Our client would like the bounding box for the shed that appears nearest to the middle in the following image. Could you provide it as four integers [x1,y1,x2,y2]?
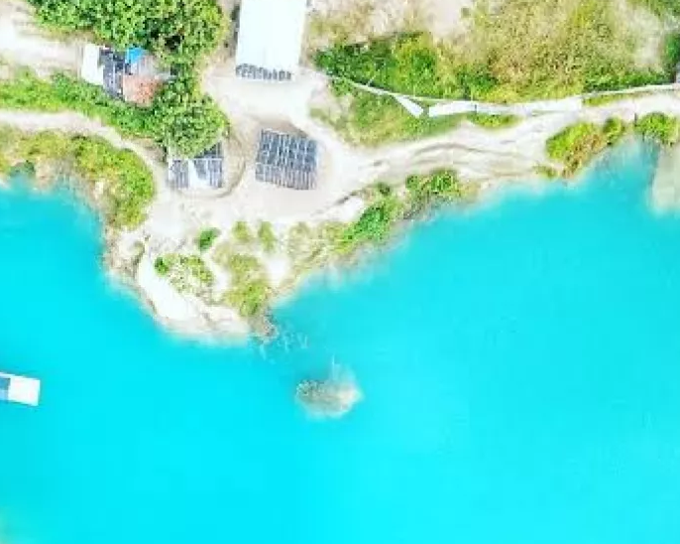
[255,129,318,189]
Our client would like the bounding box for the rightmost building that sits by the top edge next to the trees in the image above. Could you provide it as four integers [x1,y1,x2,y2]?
[235,0,307,81]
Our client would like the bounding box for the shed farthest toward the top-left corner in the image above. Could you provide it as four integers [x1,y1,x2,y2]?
[81,45,103,87]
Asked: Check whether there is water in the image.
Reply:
Yes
